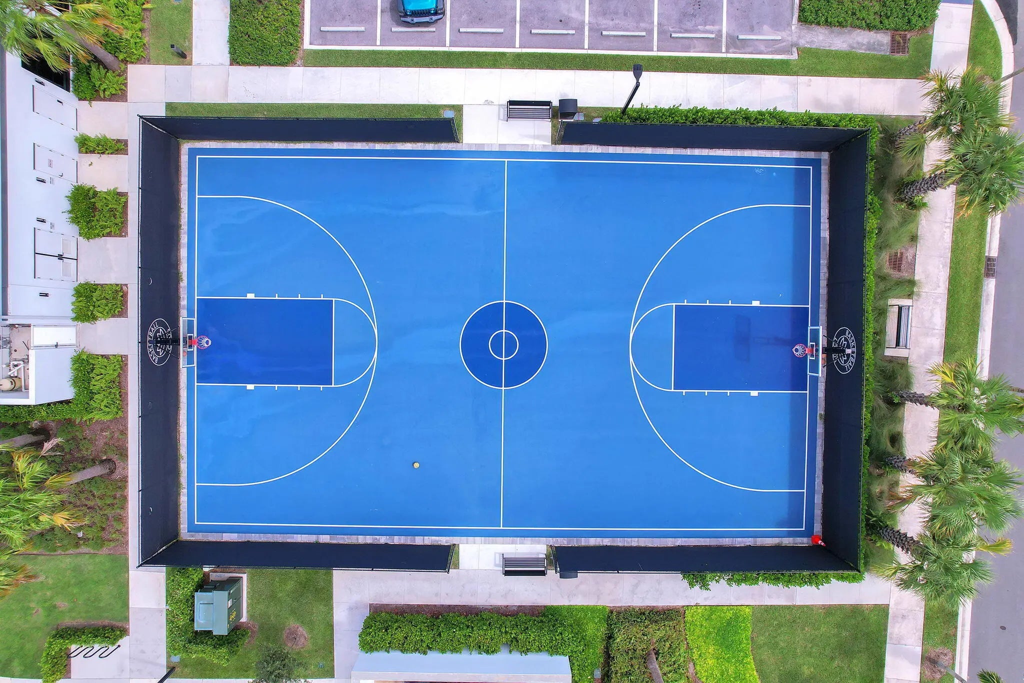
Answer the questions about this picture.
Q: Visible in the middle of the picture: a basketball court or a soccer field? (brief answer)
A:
basketball court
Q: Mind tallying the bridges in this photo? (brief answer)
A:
zero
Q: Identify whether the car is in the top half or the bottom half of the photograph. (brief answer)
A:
top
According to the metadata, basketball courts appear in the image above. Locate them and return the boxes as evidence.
[181,142,828,545]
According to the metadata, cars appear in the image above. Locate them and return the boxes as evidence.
[398,0,446,26]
